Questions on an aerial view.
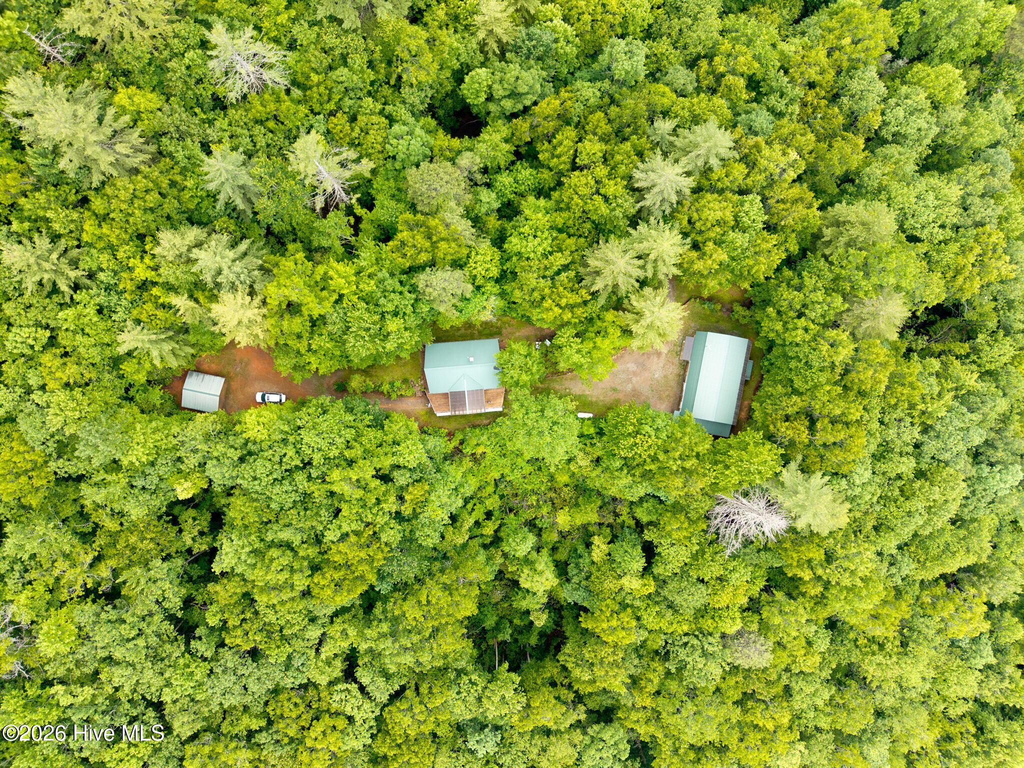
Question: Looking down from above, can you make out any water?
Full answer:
No, the scene doesn't show any water.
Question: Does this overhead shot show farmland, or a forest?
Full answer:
This looks like a forest.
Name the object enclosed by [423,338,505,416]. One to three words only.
house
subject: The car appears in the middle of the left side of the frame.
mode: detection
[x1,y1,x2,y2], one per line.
[256,391,286,404]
